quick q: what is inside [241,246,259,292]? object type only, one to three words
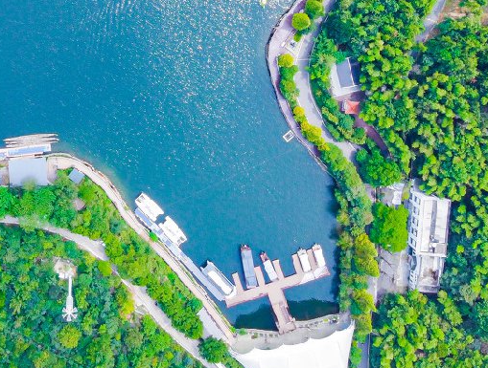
boat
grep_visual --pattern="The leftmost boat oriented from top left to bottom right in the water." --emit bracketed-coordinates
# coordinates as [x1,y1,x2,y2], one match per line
[134,192,166,222]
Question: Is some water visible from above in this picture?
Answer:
Yes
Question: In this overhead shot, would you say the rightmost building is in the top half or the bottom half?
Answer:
bottom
